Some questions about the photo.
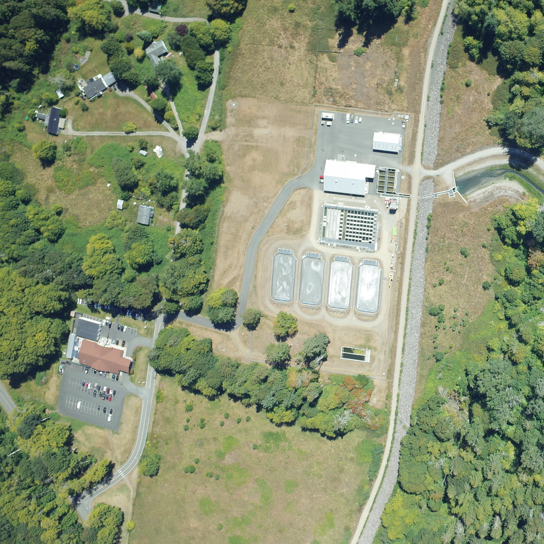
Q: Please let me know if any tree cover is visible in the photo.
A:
Yes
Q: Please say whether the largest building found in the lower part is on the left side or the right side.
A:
left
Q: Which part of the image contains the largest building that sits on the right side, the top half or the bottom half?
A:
top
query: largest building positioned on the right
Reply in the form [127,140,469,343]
[324,159,375,195]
